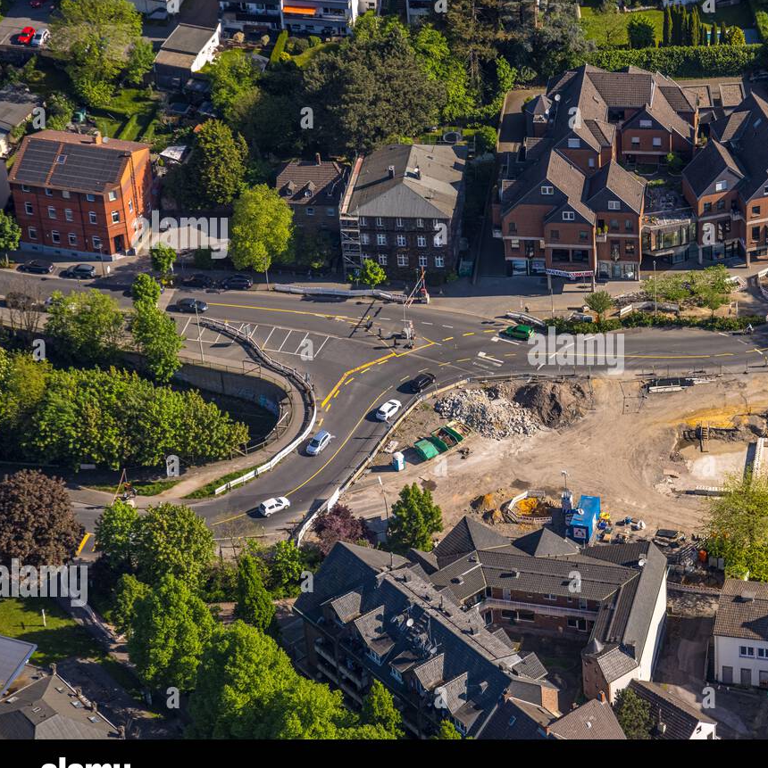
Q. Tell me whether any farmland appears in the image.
No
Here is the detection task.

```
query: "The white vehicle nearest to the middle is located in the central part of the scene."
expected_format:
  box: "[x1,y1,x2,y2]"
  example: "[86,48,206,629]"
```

[373,398,403,419]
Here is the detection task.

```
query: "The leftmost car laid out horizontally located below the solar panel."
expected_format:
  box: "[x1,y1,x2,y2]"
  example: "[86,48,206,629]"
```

[19,258,53,273]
